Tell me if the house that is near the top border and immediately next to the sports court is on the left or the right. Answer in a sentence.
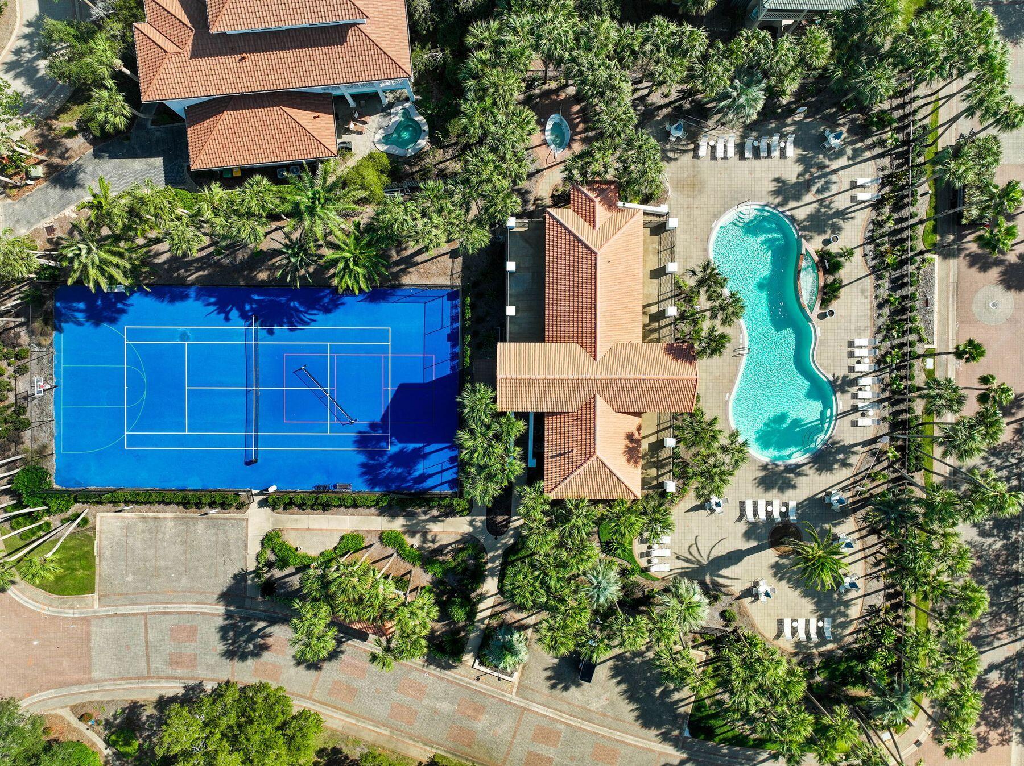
The house that is near the top border and immediately next to the sports court appears in the left half of the scene.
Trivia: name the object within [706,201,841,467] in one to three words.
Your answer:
swimming pool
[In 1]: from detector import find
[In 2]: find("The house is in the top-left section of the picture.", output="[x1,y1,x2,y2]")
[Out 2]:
[132,0,418,172]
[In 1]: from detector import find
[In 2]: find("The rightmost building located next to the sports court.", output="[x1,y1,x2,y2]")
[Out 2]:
[496,179,704,501]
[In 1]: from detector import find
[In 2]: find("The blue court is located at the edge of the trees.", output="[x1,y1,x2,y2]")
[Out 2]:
[54,287,459,492]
